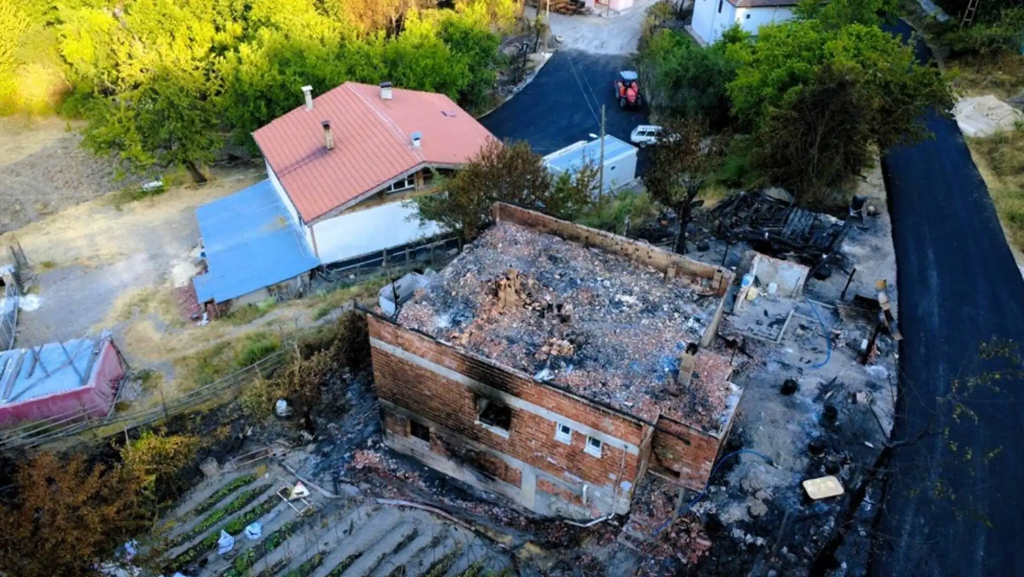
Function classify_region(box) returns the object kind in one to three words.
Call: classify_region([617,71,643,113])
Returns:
work vehicle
